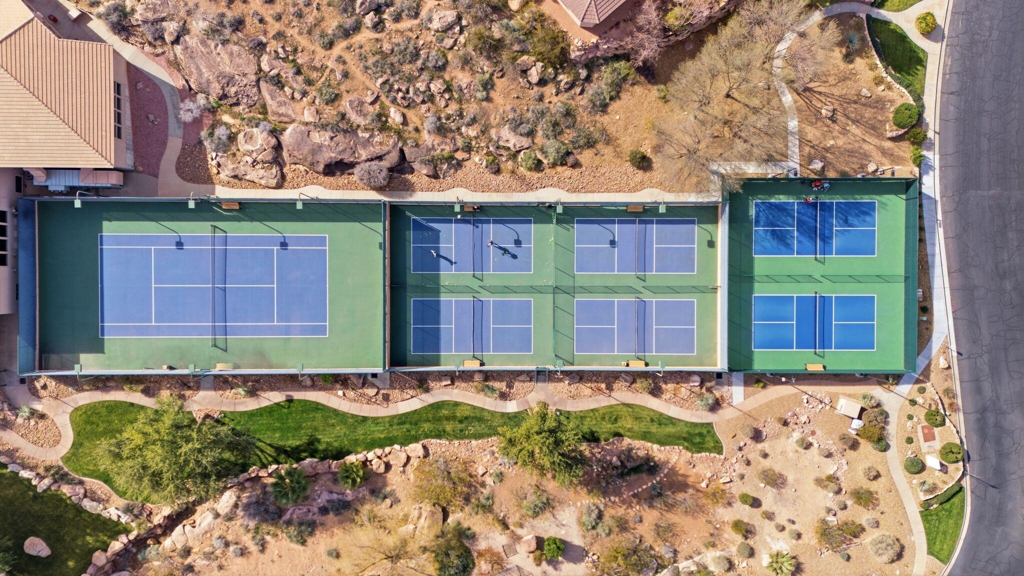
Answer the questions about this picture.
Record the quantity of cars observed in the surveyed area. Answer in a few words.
0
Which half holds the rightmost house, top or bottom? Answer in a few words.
top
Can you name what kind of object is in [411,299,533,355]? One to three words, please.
sports court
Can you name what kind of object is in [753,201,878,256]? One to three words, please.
sports court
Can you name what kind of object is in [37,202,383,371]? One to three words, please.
tennis court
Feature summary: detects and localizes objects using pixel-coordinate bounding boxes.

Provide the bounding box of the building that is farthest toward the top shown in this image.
[553,0,627,30]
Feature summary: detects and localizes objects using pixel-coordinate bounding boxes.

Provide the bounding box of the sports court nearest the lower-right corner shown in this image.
[753,295,877,351]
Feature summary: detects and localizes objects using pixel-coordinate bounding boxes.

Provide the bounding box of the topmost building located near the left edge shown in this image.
[0,0,137,169]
